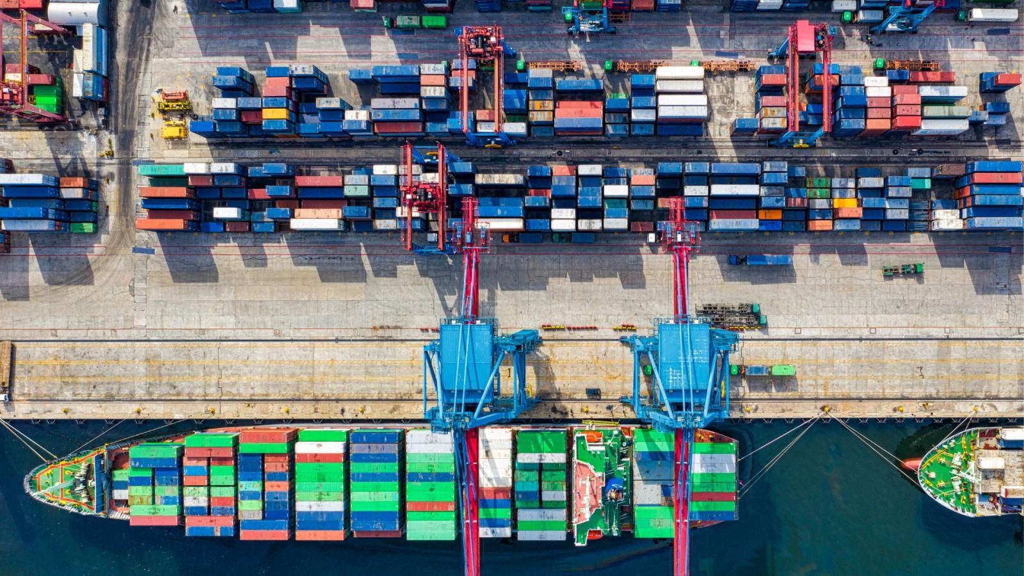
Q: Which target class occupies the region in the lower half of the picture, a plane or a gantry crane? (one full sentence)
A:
The one visible in the lower half of the picture is a gantry crane.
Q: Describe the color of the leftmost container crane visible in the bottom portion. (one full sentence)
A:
The leftmost container crane visible in the bottom portion is blue.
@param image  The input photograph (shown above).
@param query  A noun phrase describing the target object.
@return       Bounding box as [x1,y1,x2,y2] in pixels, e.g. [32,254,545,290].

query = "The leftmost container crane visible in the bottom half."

[419,197,547,576]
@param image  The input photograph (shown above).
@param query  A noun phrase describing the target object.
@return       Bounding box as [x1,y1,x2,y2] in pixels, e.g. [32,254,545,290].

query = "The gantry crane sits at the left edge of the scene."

[0,2,81,133]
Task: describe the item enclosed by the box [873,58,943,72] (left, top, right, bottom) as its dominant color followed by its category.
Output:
green vehicle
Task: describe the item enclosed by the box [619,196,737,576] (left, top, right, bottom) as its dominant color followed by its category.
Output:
blue container crane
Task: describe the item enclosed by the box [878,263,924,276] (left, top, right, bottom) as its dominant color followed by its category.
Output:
green vehicle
